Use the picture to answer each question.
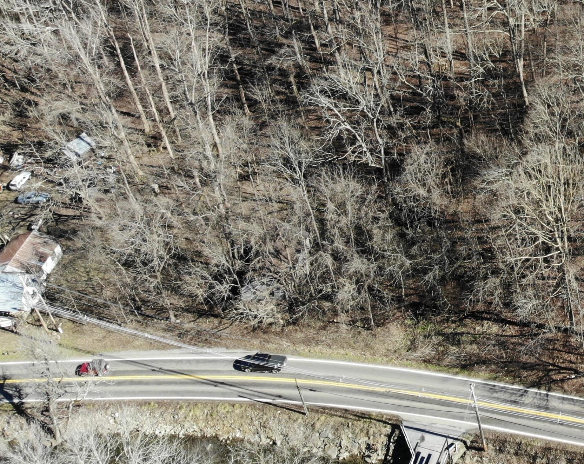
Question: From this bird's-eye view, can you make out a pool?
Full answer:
No, no pool is visible in the view.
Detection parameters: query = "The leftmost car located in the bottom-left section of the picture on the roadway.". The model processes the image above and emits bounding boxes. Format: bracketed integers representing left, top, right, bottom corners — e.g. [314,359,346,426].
[77,356,108,376]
